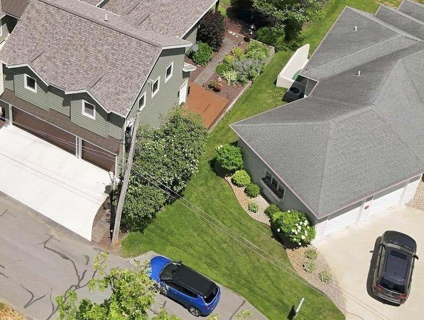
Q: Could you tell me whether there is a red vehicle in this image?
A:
No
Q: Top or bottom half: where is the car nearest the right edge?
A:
bottom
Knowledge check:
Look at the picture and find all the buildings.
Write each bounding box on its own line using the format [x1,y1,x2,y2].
[228,0,424,242]
[0,0,220,167]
